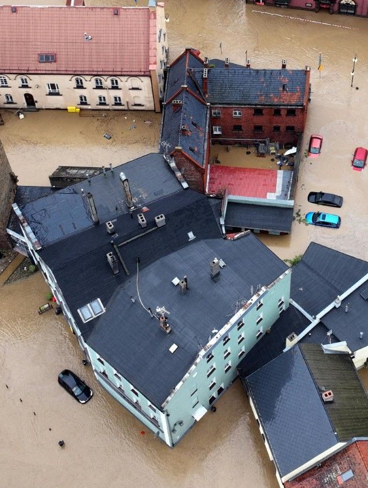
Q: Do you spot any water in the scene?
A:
Yes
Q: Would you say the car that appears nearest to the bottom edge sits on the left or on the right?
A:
left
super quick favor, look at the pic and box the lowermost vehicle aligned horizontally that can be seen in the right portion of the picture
[305,210,341,227]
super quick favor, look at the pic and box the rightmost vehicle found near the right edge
[351,145,368,171]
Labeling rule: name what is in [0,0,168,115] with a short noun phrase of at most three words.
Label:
building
